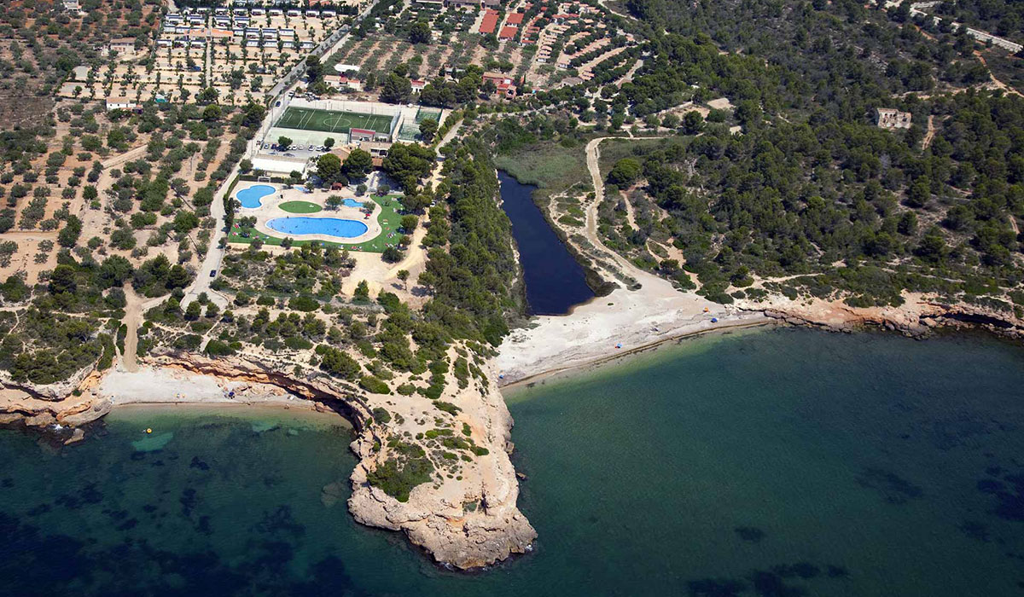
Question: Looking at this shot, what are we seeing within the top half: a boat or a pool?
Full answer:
There is a pool within the top half.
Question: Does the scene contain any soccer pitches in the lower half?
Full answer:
No, the scene shows no soccer pitch in the lower half.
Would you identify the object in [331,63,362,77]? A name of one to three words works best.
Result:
shed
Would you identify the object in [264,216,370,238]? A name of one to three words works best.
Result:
swimming pool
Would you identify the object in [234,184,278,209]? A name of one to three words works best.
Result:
swimming pool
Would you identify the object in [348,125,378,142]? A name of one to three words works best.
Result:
building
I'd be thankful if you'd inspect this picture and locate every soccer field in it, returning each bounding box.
[274,107,392,133]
